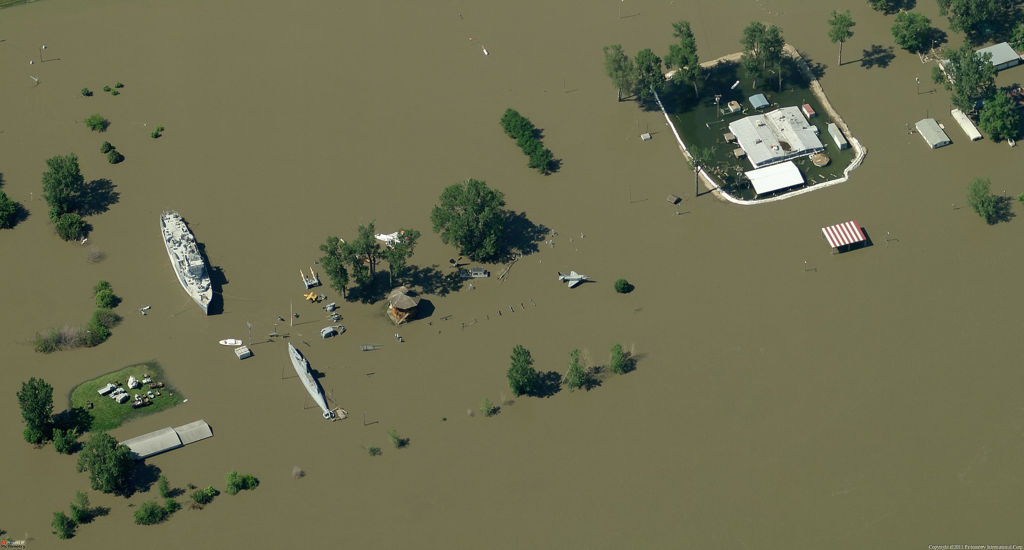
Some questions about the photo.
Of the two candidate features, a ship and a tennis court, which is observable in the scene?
ship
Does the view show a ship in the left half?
Yes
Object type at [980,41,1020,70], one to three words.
building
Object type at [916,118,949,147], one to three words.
house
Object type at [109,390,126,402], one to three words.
vehicle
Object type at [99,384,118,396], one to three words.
vehicle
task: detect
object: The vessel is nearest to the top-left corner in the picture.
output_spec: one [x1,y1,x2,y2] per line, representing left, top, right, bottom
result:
[162,211,210,313]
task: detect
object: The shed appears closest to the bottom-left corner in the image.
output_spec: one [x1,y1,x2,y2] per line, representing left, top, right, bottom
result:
[123,427,182,464]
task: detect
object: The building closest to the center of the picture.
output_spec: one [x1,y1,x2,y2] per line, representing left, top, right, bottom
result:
[387,286,420,320]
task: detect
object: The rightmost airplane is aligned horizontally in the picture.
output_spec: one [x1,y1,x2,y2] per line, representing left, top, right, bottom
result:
[558,270,590,285]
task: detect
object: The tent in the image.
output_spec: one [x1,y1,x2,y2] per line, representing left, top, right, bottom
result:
[745,161,804,196]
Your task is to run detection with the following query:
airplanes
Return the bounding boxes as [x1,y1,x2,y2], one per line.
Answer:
[558,270,590,285]
[304,292,318,302]
[375,228,410,244]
